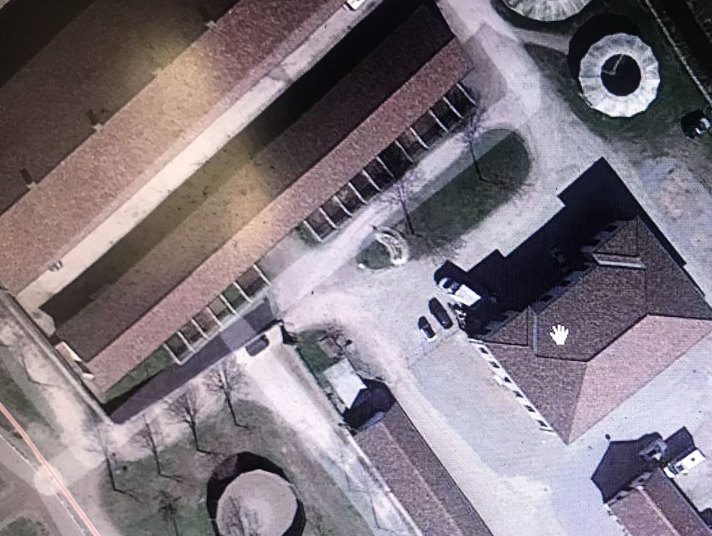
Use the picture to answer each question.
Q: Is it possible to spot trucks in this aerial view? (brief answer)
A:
Yes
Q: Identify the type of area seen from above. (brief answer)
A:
industrial area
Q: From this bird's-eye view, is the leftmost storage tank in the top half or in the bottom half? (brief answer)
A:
bottom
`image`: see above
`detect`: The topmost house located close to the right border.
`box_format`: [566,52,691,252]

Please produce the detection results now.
[466,215,712,444]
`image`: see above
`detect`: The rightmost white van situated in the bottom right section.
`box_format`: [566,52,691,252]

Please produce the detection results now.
[662,448,706,477]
